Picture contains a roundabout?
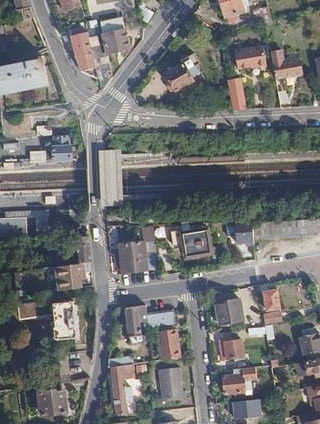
No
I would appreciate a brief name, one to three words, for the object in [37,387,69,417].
house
